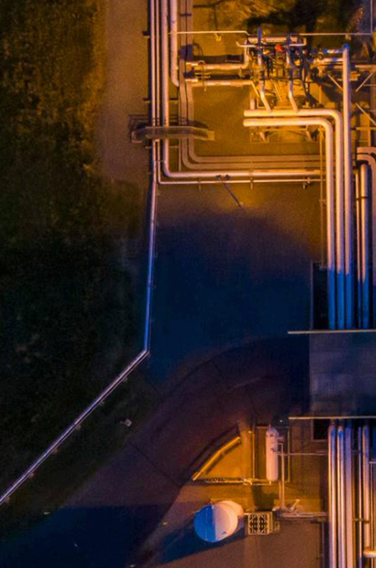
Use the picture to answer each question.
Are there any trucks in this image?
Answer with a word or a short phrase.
No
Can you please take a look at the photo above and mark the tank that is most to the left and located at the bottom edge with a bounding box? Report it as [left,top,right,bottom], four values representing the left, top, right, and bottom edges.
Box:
[194,497,244,543]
